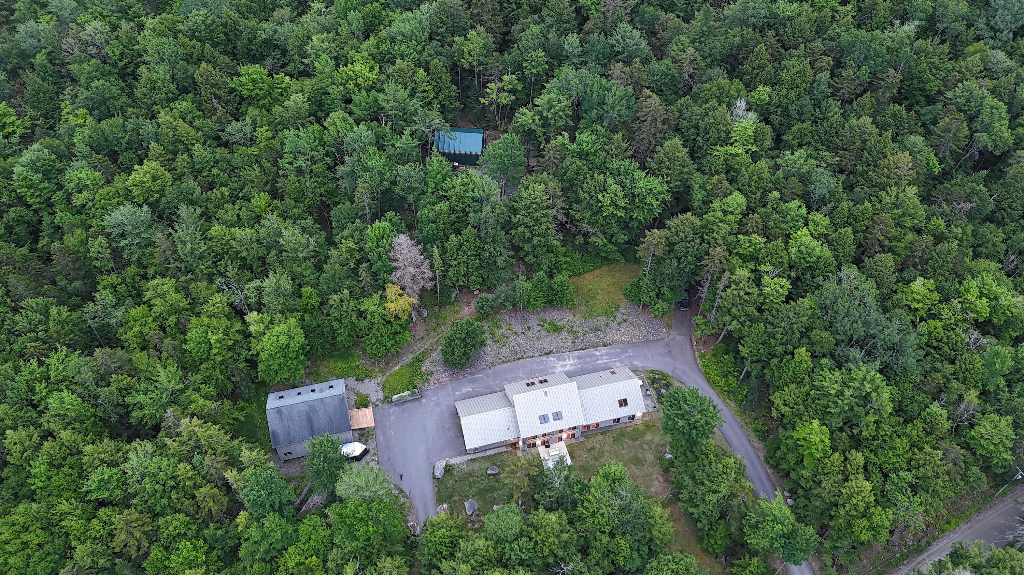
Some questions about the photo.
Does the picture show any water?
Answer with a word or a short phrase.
No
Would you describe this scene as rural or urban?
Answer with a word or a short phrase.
rural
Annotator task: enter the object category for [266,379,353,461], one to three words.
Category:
barn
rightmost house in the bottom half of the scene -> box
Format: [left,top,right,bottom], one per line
[455,366,645,455]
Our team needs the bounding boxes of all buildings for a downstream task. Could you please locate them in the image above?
[455,366,645,455]
[266,379,353,461]
[431,127,486,164]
